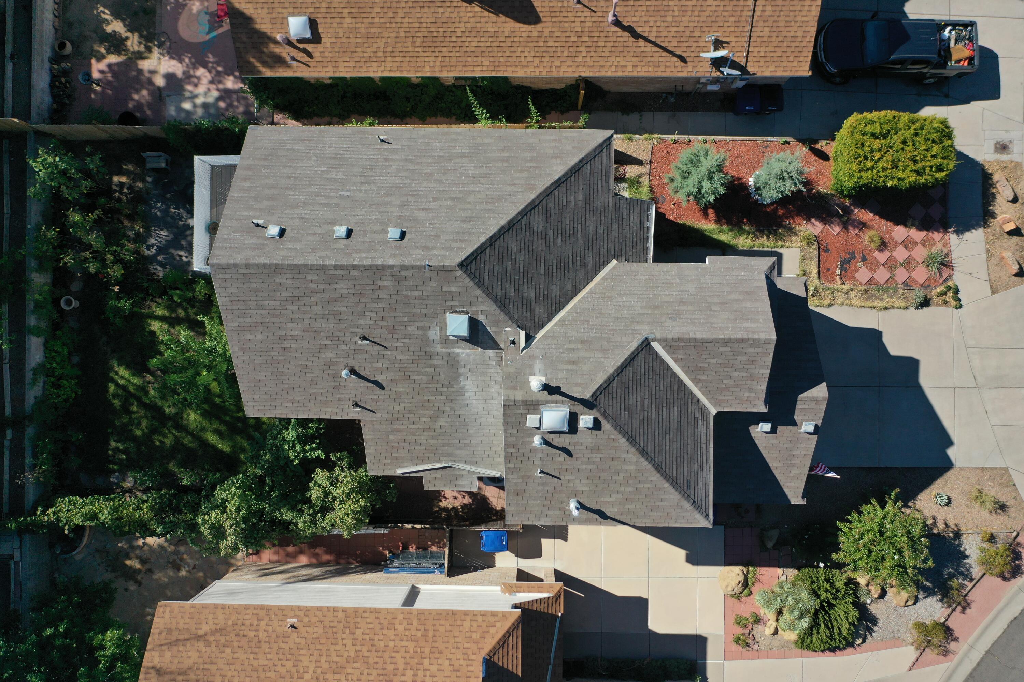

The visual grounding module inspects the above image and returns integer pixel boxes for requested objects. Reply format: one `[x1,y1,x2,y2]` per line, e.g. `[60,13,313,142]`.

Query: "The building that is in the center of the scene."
[192,125,828,530]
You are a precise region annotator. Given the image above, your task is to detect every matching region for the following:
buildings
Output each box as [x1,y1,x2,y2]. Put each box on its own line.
[227,0,825,98]
[137,563,565,682]
[192,125,828,530]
